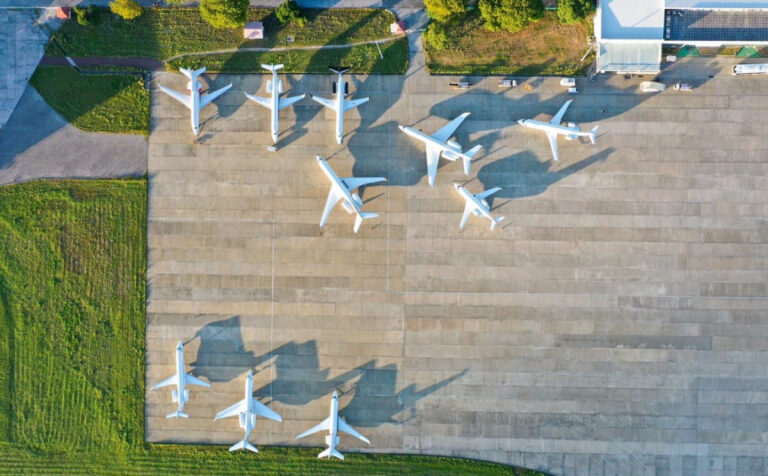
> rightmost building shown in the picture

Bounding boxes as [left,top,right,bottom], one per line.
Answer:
[662,0,768,46]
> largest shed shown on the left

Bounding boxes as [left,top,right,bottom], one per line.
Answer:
[243,22,264,40]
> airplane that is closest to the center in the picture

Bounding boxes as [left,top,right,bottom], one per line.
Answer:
[317,156,386,233]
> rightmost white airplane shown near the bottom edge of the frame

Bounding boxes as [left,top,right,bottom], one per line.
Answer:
[296,391,370,457]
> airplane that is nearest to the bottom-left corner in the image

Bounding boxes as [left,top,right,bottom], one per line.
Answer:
[151,341,210,418]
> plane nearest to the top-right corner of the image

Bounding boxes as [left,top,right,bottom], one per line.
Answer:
[518,99,598,161]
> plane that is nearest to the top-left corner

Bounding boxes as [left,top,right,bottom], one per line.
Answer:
[157,67,230,134]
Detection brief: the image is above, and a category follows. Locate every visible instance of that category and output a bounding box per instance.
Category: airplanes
[151,341,210,418]
[296,391,370,457]
[310,67,369,143]
[399,110,483,187]
[244,65,304,143]
[317,156,386,233]
[454,184,506,231]
[518,99,598,161]
[213,370,280,454]
[157,67,230,134]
